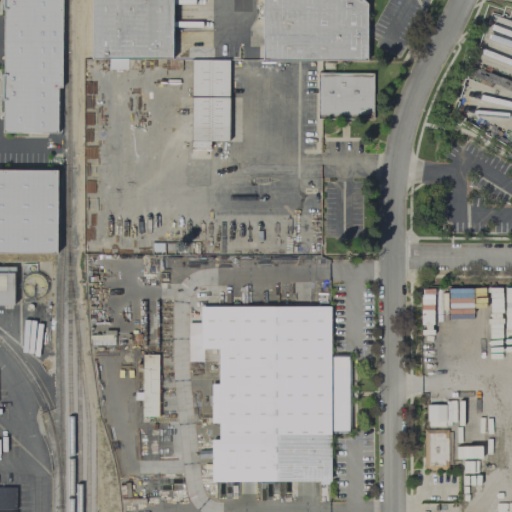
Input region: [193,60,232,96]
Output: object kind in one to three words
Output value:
shed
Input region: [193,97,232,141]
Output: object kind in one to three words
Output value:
shed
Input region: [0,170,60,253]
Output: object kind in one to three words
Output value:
building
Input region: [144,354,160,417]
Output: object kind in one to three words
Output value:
building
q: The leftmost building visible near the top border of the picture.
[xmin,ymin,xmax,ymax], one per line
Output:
[3,0,64,133]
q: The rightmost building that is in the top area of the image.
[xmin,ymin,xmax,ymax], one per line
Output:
[320,73,376,119]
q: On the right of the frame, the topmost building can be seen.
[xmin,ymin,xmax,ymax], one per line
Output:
[265,0,370,61]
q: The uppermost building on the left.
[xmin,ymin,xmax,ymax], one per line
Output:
[93,0,175,59]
